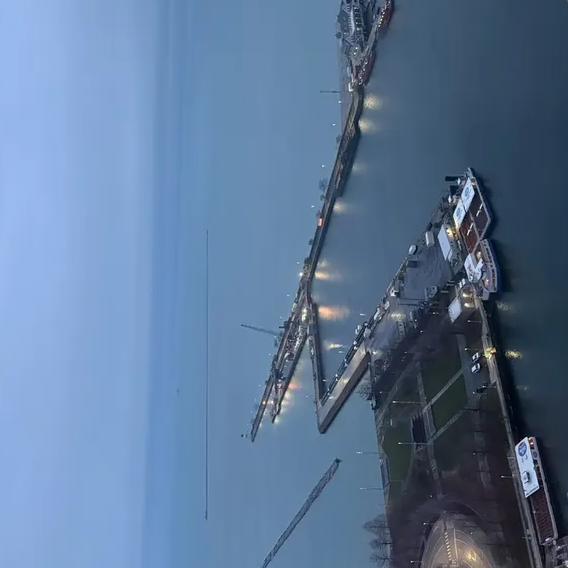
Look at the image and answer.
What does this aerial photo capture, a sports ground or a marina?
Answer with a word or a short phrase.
marina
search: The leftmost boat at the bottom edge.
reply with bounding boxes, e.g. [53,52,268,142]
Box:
[517,437,564,544]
